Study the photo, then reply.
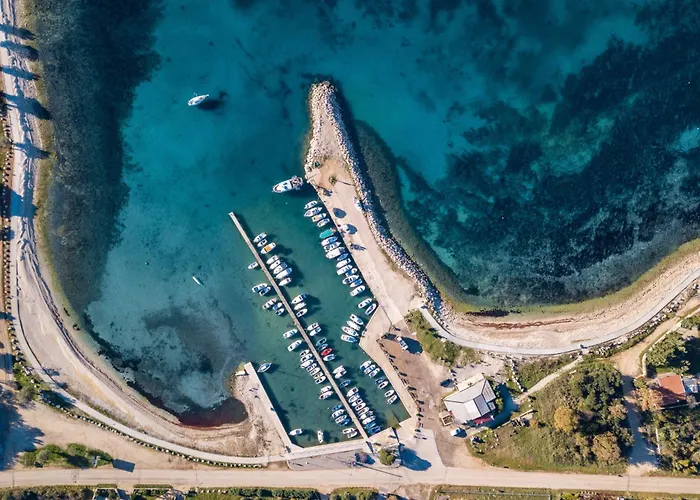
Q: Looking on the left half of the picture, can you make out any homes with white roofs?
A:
No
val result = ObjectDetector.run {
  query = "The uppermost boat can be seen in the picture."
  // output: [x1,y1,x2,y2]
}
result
[188,90,209,107]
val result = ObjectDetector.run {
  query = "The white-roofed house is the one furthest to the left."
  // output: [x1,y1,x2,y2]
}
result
[443,371,496,424]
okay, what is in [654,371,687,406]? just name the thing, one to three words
house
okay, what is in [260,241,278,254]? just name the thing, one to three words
boat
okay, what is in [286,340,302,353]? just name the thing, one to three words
boat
